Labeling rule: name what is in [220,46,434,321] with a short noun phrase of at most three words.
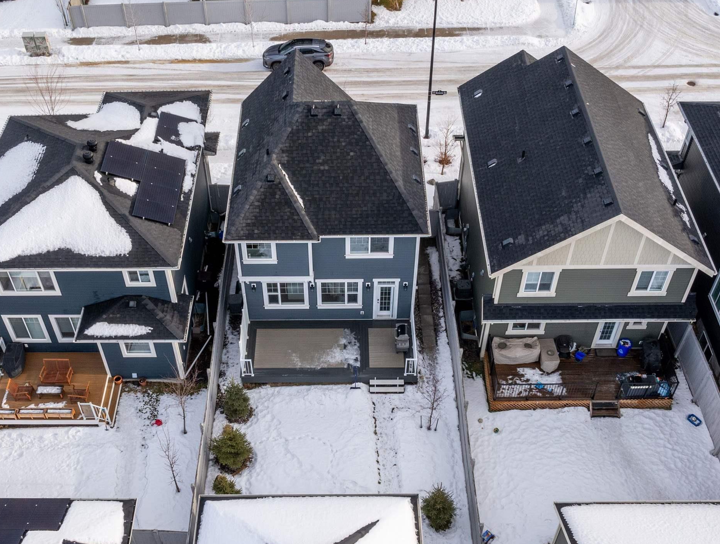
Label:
house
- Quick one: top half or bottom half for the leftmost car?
top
